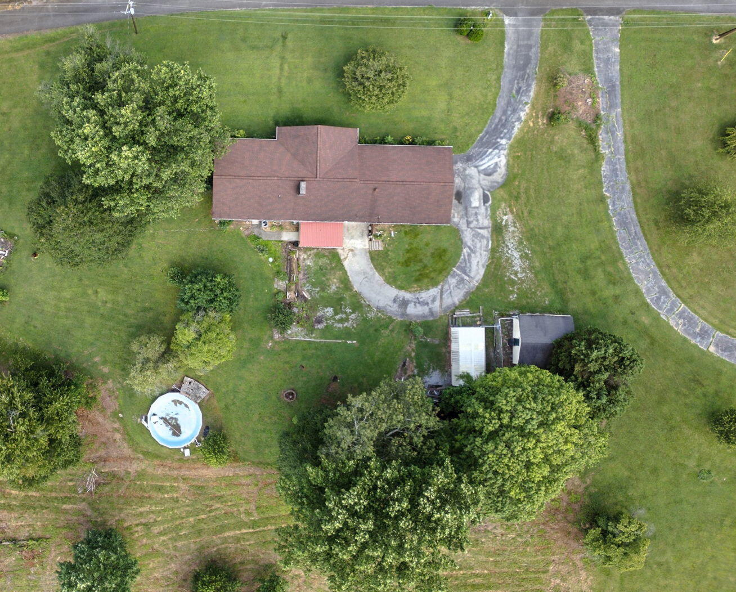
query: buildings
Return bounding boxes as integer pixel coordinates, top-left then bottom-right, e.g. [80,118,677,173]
[445,326,486,386]
[510,314,574,366]
[212,126,454,248]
